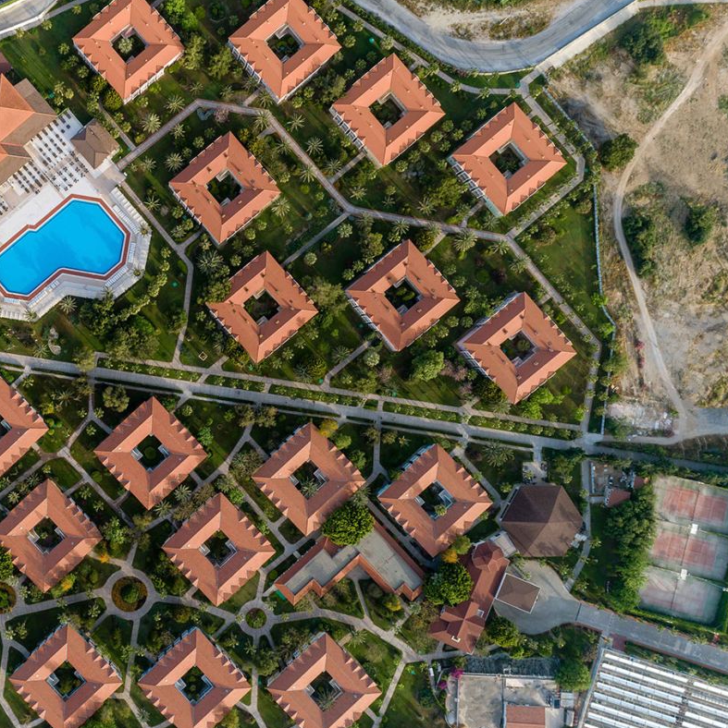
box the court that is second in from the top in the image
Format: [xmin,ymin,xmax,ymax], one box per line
[648,520,728,584]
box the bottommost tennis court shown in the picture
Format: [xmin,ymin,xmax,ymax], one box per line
[635,567,727,627]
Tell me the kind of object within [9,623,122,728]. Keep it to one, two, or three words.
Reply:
house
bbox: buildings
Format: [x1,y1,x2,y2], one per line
[346,238,458,350]
[205,251,316,363]
[139,627,251,728]
[331,53,444,167]
[449,103,565,216]
[377,444,491,557]
[573,647,728,728]
[0,378,47,477]
[631,477,648,490]
[604,487,631,507]
[252,424,365,535]
[0,54,58,187]
[229,0,341,101]
[73,0,183,101]
[459,292,574,404]
[434,538,510,655]
[9,623,122,728]
[70,119,120,168]
[443,672,564,728]
[275,526,424,605]
[95,397,207,510]
[499,486,584,557]
[169,132,281,243]
[269,633,380,728]
[0,479,102,592]
[163,493,276,606]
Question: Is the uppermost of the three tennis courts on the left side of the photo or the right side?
right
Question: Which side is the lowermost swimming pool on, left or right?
left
